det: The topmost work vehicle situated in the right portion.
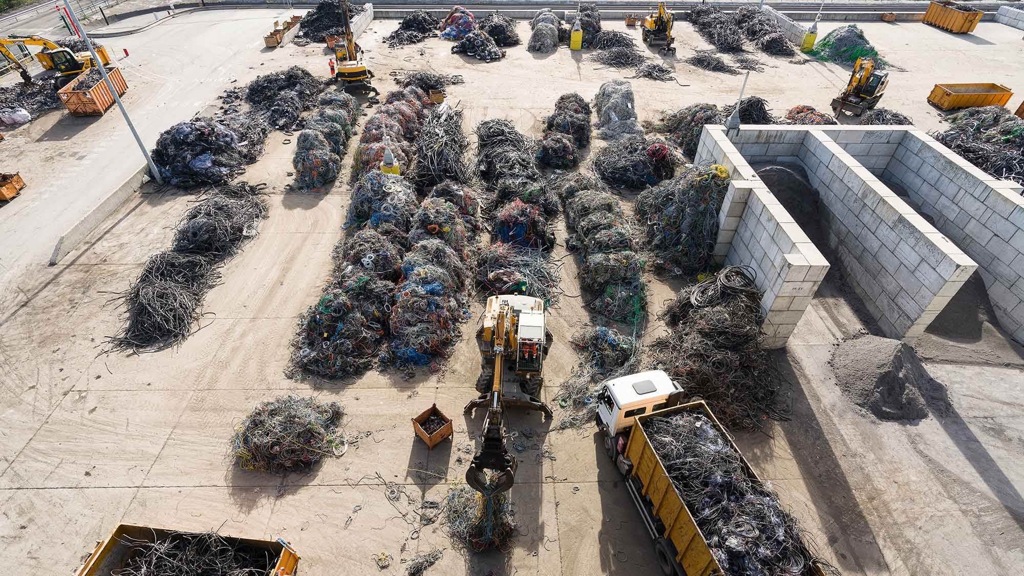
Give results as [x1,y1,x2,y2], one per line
[637,0,681,46]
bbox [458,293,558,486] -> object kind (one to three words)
work vehicle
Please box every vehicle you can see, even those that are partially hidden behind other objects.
[333,0,379,92]
[590,362,840,576]
[838,46,904,116]
[637,0,681,46]
[458,293,558,486]
[0,27,110,83]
